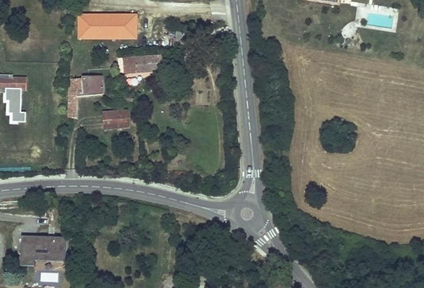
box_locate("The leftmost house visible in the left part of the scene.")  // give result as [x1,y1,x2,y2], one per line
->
[0,76,26,126]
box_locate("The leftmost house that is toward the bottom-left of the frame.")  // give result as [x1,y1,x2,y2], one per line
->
[20,235,66,266]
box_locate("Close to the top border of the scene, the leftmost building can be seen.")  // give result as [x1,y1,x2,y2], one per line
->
[77,13,138,40]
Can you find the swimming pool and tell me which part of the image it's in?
top right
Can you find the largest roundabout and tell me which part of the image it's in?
bottom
